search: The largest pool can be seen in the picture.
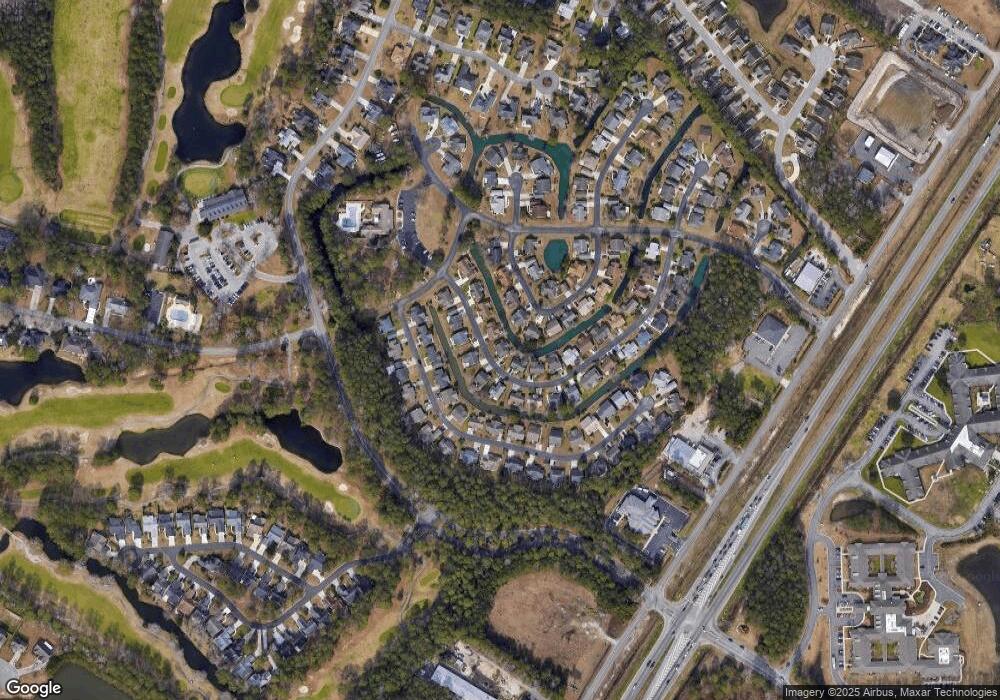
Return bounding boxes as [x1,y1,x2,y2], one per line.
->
[166,304,201,333]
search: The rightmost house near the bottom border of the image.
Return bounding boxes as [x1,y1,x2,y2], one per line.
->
[849,541,962,674]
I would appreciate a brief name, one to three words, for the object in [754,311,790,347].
building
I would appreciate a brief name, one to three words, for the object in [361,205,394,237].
building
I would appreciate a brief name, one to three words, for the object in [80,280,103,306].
house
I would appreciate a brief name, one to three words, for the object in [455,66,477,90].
house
